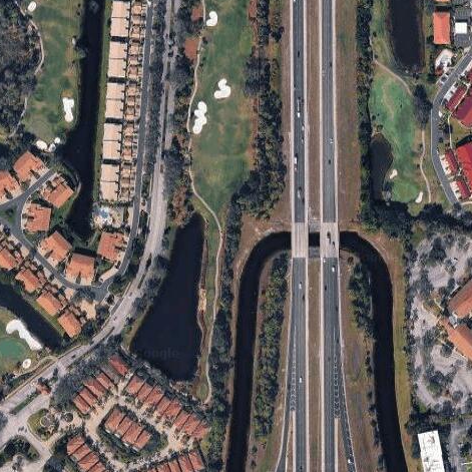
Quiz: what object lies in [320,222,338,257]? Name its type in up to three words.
bridge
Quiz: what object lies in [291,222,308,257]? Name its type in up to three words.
bridge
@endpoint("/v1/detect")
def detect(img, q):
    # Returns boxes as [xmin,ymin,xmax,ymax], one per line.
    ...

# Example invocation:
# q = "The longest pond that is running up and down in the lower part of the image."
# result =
[133,213,202,380]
